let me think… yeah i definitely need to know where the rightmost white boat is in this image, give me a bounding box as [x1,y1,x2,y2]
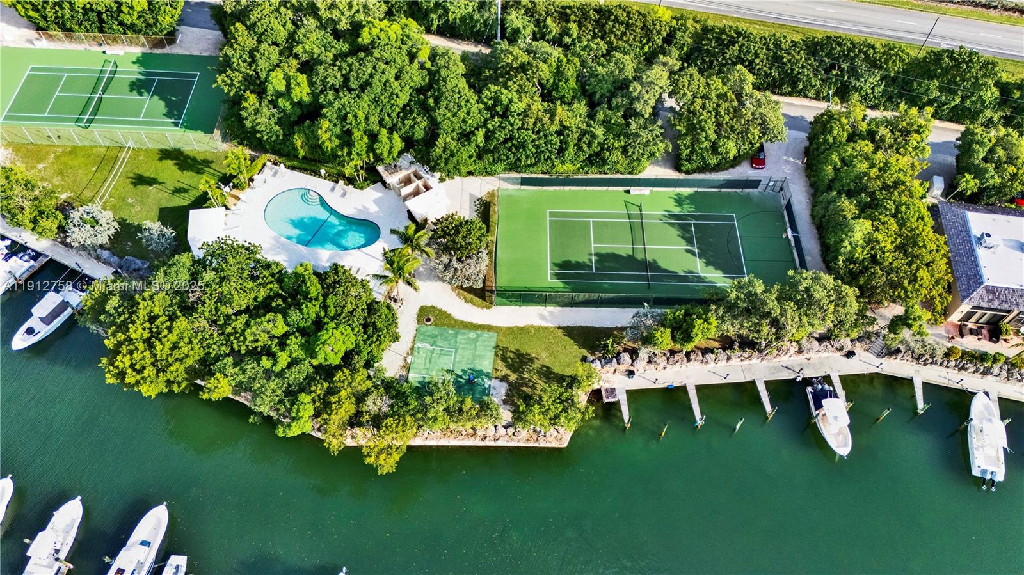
[964,392,1014,493]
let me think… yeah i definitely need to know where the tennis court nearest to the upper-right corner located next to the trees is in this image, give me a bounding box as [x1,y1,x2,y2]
[495,189,801,308]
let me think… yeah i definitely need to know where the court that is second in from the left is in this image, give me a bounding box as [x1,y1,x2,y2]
[406,326,497,403]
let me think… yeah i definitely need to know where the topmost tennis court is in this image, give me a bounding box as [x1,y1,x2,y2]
[0,46,219,151]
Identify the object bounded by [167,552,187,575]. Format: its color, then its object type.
white boat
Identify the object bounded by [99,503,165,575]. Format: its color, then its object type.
white boat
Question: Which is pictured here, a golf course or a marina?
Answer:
marina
